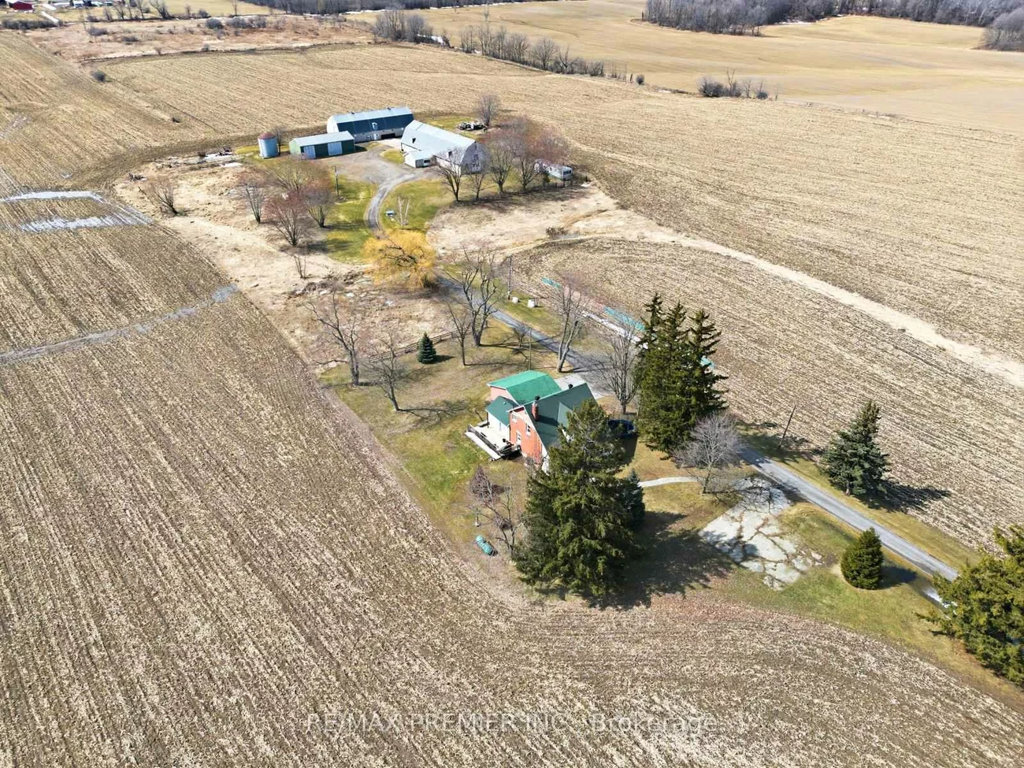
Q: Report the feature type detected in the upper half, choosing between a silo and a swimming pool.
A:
silo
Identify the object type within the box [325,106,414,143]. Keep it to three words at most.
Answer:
barn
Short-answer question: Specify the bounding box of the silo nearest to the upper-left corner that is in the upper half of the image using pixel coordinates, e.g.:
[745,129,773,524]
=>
[257,129,281,157]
